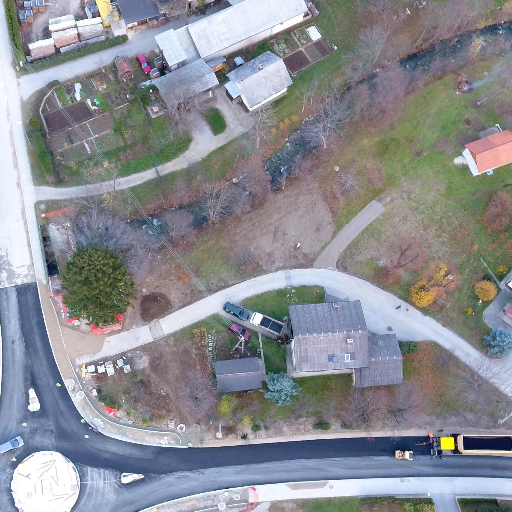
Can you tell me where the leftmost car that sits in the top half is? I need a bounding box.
[135,53,152,75]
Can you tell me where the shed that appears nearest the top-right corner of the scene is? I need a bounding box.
[464,129,512,173]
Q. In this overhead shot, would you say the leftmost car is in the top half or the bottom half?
bottom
